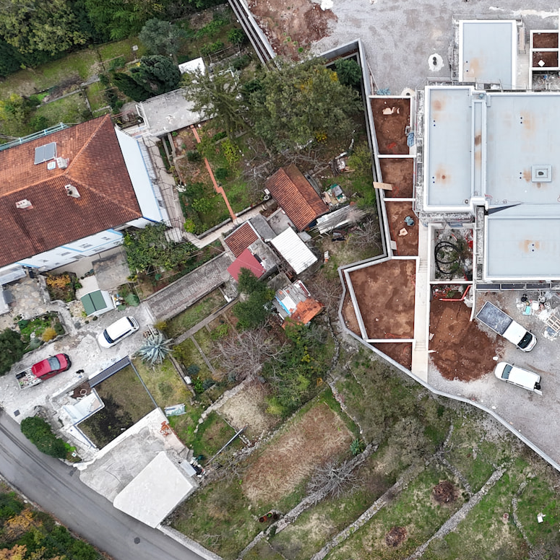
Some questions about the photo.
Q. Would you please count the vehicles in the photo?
4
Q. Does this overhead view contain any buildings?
Yes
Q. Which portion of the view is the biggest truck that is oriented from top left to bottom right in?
right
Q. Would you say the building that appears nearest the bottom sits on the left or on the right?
left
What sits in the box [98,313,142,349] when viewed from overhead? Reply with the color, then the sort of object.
white car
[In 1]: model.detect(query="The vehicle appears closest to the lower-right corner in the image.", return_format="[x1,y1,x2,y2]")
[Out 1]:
[493,362,545,396]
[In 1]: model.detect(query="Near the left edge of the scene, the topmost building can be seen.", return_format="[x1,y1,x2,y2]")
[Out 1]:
[0,114,175,280]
